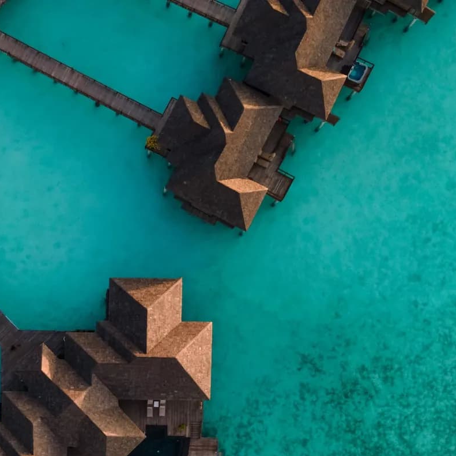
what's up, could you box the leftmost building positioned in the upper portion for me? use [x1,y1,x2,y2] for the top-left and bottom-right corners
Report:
[143,77,296,235]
